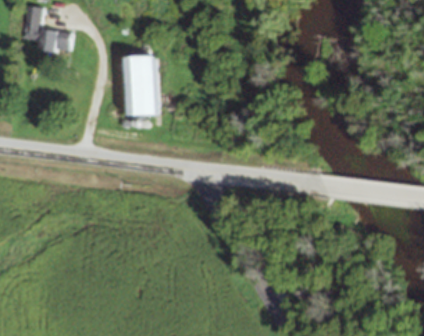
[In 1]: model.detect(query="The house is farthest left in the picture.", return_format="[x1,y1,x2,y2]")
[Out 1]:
[22,5,48,40]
